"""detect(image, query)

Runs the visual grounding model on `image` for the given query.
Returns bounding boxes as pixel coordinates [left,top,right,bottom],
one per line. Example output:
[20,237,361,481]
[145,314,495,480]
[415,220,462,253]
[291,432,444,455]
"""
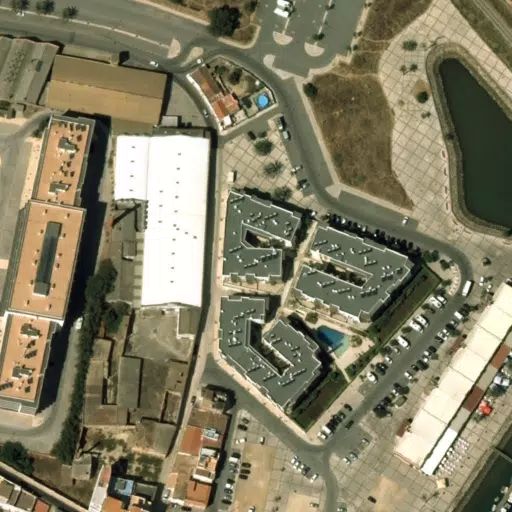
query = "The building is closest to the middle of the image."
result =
[220,192,300,280]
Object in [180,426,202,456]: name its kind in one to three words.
house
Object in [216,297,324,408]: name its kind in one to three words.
building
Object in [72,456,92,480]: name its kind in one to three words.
shed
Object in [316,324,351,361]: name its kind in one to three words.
swimming pool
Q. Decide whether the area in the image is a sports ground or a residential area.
residential area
